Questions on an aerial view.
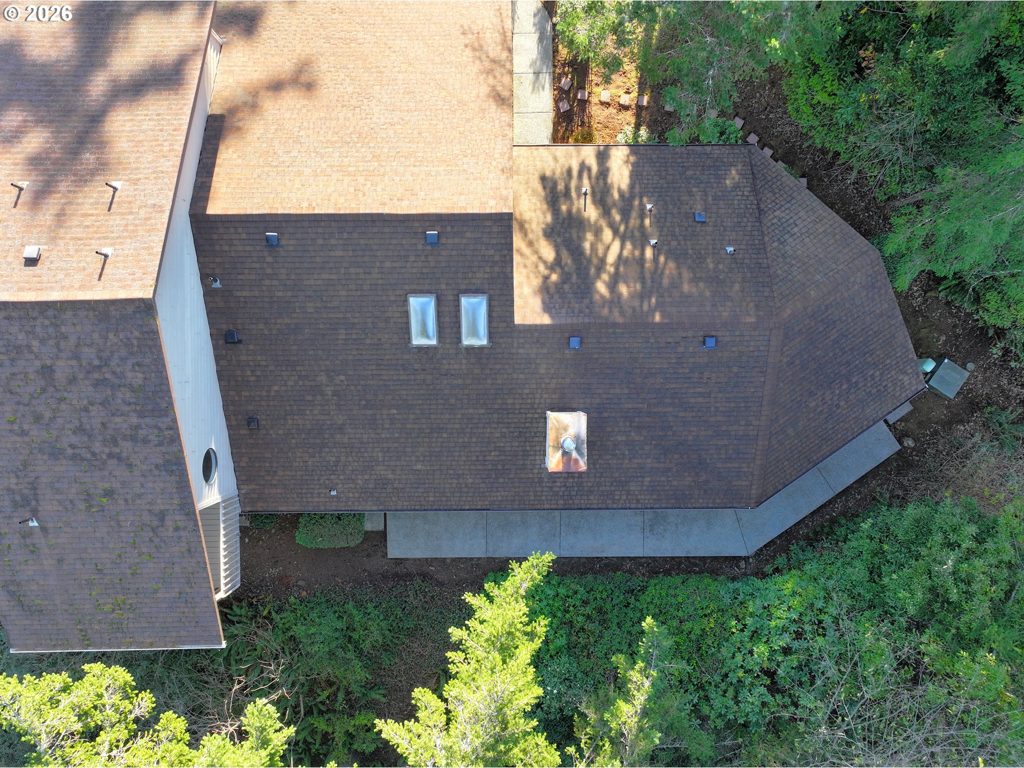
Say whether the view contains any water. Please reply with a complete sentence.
No, there is no water in the image.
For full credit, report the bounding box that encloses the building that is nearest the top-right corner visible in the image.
[190,0,931,516]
